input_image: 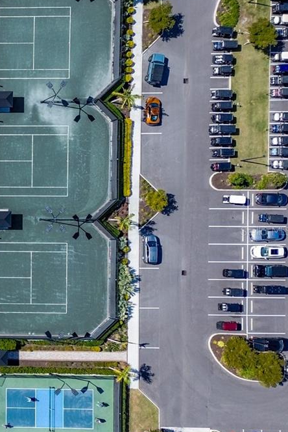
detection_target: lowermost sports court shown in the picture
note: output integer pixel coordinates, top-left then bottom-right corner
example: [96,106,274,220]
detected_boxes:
[0,378,115,432]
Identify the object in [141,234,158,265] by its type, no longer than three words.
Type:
car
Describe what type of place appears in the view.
sports ground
